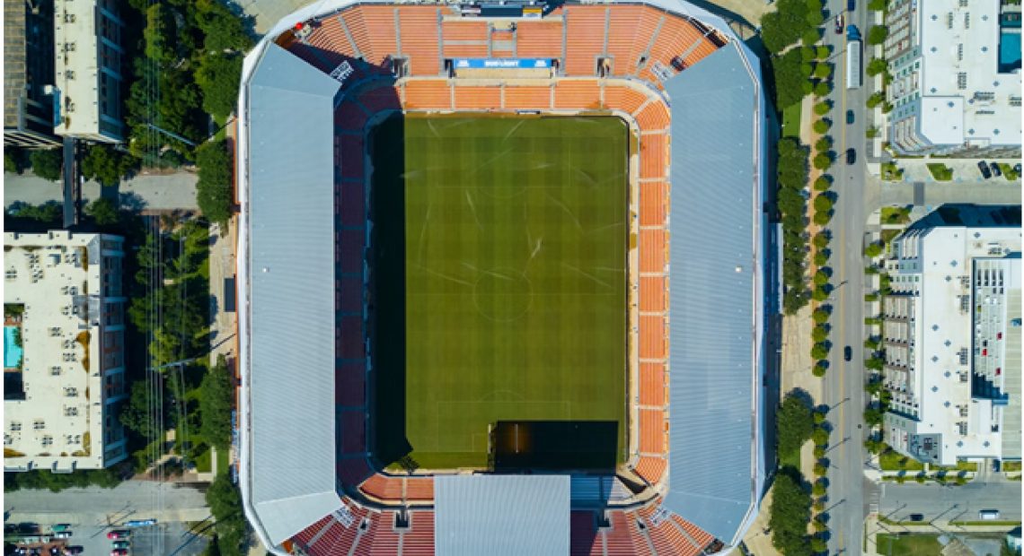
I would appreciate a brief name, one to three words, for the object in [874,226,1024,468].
building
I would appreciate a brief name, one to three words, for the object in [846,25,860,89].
vehicle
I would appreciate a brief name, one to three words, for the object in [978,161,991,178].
vehicle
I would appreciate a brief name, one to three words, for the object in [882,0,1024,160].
building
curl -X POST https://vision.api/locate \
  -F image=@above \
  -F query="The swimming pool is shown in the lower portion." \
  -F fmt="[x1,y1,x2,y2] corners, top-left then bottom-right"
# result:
[0,314,22,375]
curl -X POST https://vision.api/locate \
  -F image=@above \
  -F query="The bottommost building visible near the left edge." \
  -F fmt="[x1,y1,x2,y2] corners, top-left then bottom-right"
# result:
[0,229,129,473]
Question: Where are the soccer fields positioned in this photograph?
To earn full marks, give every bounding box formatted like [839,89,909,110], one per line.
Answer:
[371,110,627,469]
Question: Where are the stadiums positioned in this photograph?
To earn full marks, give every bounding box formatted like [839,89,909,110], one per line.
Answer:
[238,0,767,556]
